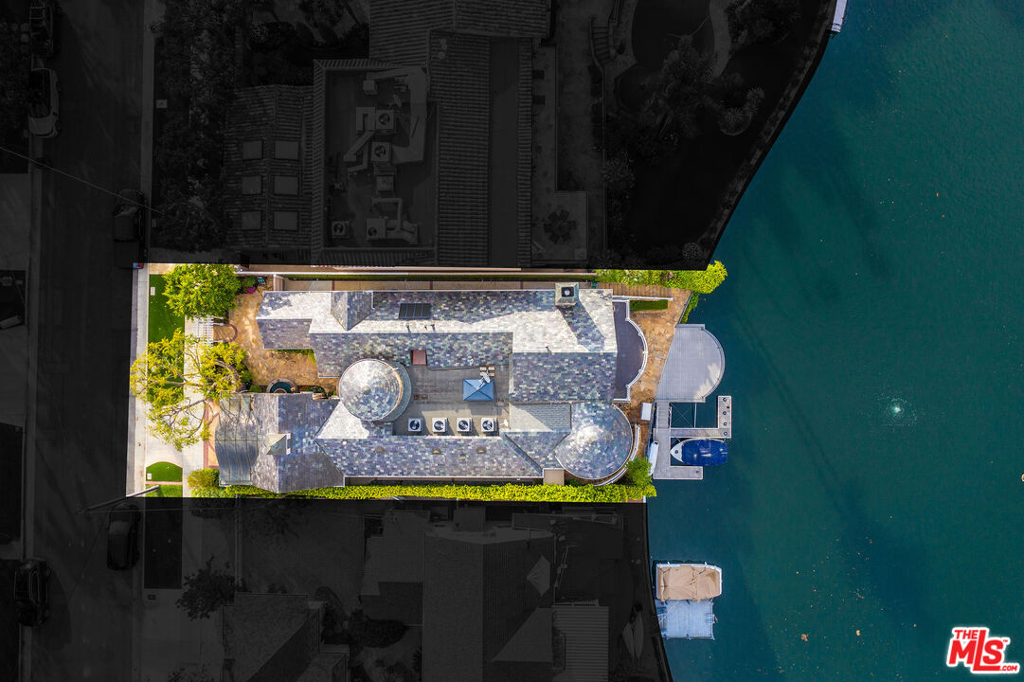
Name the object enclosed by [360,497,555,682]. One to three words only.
house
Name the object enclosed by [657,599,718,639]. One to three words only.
pier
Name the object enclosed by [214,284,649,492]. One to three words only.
house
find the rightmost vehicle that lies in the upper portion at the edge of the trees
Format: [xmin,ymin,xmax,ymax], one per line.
[111,188,149,270]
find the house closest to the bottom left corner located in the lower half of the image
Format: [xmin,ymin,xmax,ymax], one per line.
[225,582,349,682]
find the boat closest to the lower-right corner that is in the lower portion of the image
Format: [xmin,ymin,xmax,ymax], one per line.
[658,565,724,604]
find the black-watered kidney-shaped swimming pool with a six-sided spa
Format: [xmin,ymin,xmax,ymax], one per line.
[614,0,718,113]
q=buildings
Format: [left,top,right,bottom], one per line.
[214,284,649,492]
[360,497,555,682]
[225,582,349,682]
[312,0,550,278]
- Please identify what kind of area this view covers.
residential area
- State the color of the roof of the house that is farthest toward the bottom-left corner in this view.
black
